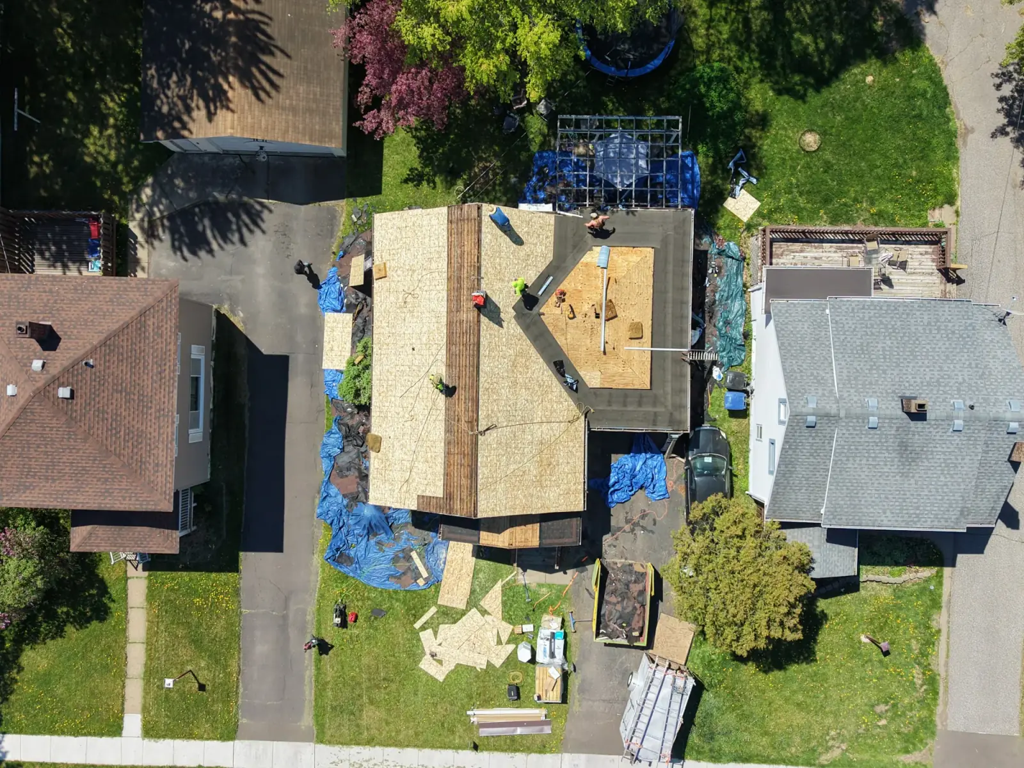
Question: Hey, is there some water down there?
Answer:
No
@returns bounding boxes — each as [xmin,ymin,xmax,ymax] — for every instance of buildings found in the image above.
[138,0,355,157]
[744,265,1024,581]
[0,270,213,561]
[366,204,697,582]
